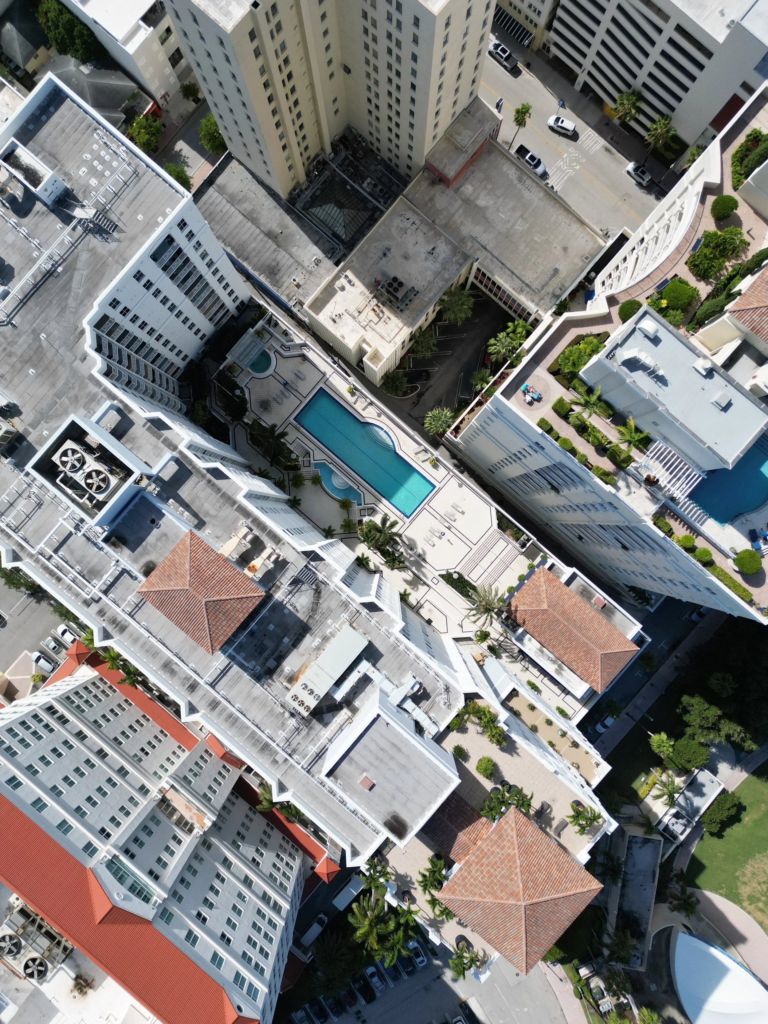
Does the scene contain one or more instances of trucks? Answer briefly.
Yes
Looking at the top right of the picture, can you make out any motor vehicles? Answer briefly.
Yes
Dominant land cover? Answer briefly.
buildings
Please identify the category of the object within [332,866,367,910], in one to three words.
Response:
truck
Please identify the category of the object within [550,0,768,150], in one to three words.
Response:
building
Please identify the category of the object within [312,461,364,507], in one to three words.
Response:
swimming pool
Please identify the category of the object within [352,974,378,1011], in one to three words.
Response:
car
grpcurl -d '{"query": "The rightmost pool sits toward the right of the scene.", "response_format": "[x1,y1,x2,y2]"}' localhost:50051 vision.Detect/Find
[685,423,768,535]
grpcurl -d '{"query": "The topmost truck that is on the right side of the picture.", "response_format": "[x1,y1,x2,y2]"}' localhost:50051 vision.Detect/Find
[486,37,524,76]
